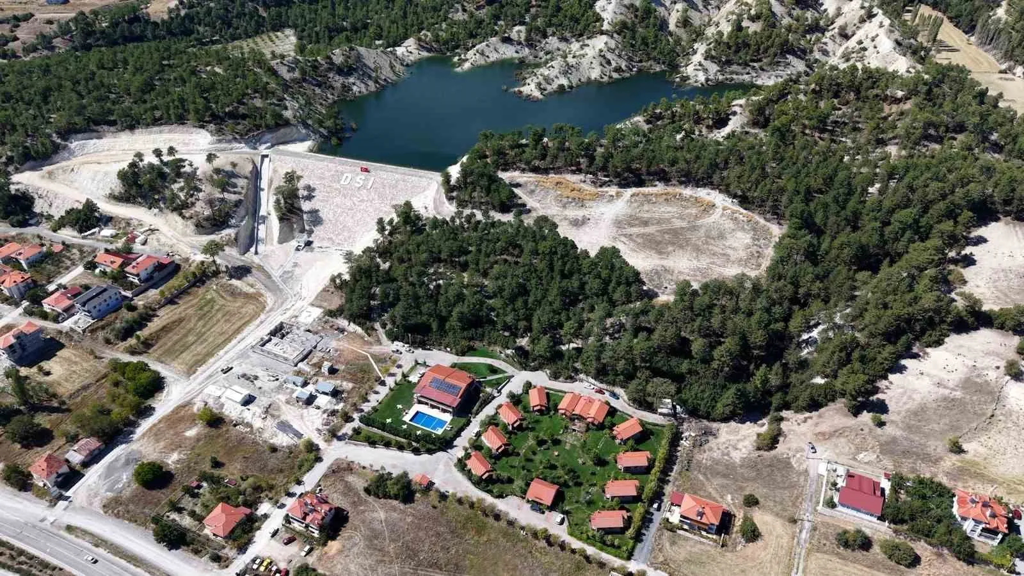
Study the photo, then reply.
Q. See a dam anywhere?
Yes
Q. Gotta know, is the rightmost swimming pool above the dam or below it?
below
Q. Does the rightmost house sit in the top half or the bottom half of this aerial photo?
bottom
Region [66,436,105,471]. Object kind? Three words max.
shed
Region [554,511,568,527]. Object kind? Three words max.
vehicle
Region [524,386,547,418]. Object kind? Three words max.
house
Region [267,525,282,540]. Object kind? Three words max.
car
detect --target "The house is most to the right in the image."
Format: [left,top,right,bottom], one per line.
[951,477,1008,552]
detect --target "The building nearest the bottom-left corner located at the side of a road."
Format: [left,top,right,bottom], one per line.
[33,457,74,495]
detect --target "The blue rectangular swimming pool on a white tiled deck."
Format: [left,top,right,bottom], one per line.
[405,402,452,436]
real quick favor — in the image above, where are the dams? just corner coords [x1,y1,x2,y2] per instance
[270,154,438,250]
